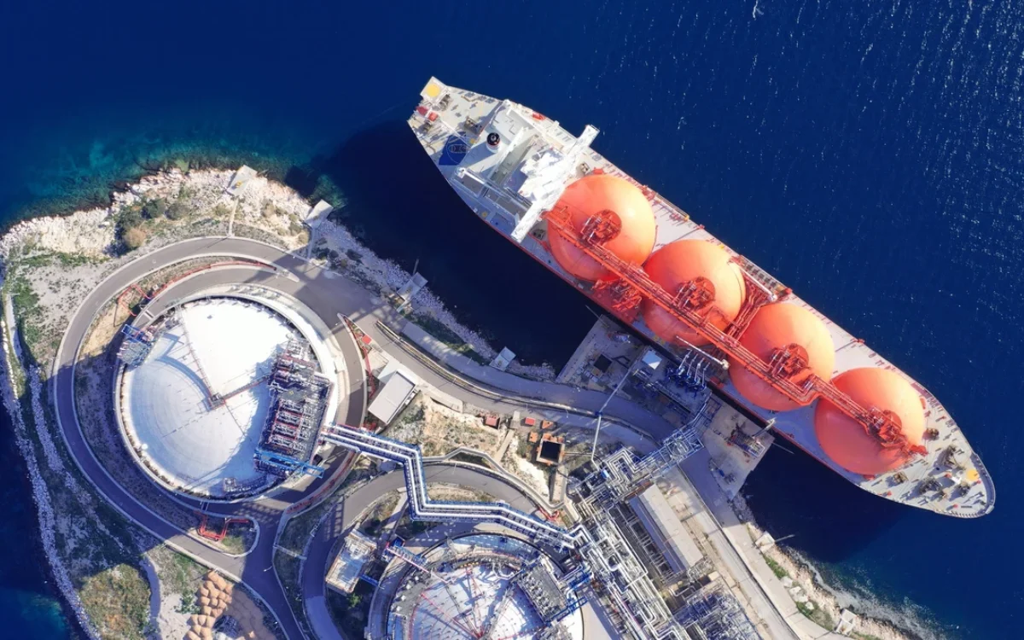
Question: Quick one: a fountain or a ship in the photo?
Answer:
ship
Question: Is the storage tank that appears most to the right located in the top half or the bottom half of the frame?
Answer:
bottom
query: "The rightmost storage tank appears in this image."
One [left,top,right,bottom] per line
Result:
[385,531,594,640]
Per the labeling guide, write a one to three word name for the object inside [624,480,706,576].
building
